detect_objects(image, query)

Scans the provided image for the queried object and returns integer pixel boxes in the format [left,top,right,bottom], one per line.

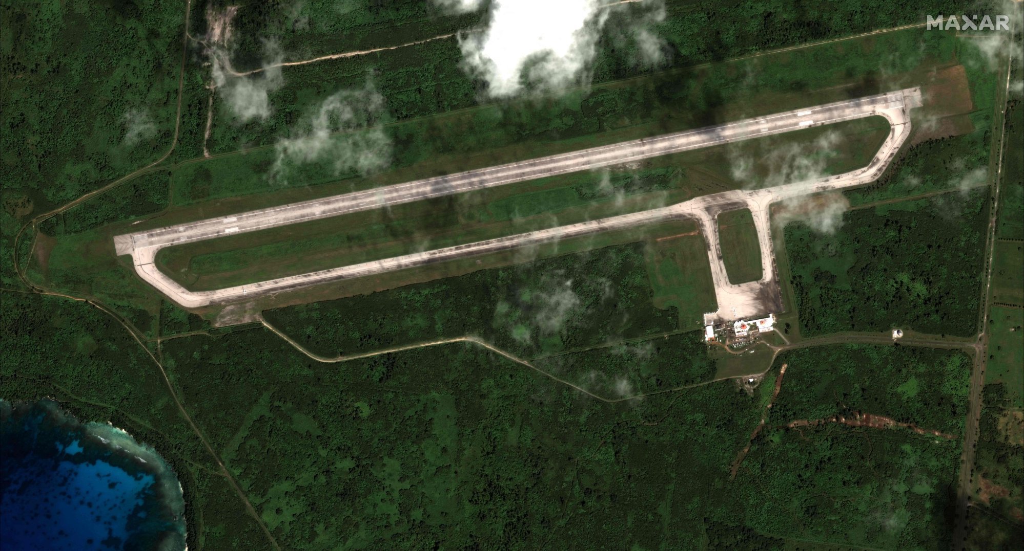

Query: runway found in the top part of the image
[114,87,923,256]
